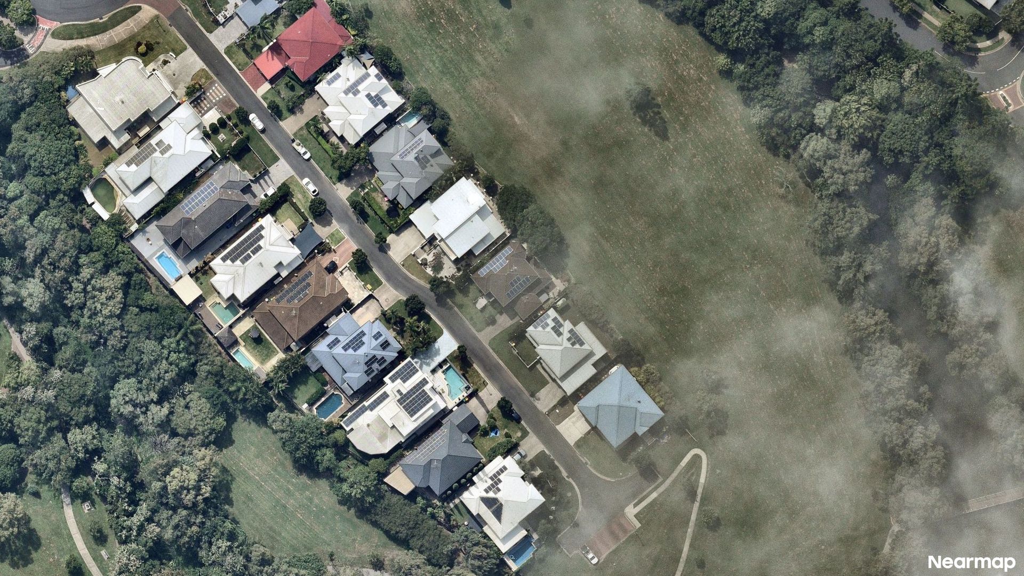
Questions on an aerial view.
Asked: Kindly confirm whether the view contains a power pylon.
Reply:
No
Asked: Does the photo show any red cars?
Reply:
No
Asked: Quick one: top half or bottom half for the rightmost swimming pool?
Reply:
bottom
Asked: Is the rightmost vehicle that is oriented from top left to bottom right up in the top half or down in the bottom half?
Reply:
bottom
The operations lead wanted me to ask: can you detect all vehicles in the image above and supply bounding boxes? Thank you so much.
[289,137,311,161]
[324,257,339,274]
[511,446,529,463]
[258,184,278,203]
[248,111,266,133]
[300,176,319,198]
[578,543,601,567]
[508,406,525,426]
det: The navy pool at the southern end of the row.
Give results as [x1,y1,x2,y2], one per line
[505,534,535,568]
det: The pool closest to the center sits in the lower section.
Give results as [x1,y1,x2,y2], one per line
[443,365,465,401]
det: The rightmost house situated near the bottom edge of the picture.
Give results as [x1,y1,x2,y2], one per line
[459,454,546,553]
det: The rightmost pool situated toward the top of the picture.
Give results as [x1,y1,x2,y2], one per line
[397,110,423,128]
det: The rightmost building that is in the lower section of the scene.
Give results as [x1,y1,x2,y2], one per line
[577,364,664,454]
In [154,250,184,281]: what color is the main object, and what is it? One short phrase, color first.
blue swimming pool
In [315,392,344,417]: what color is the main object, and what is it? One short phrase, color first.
blue swimming pool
